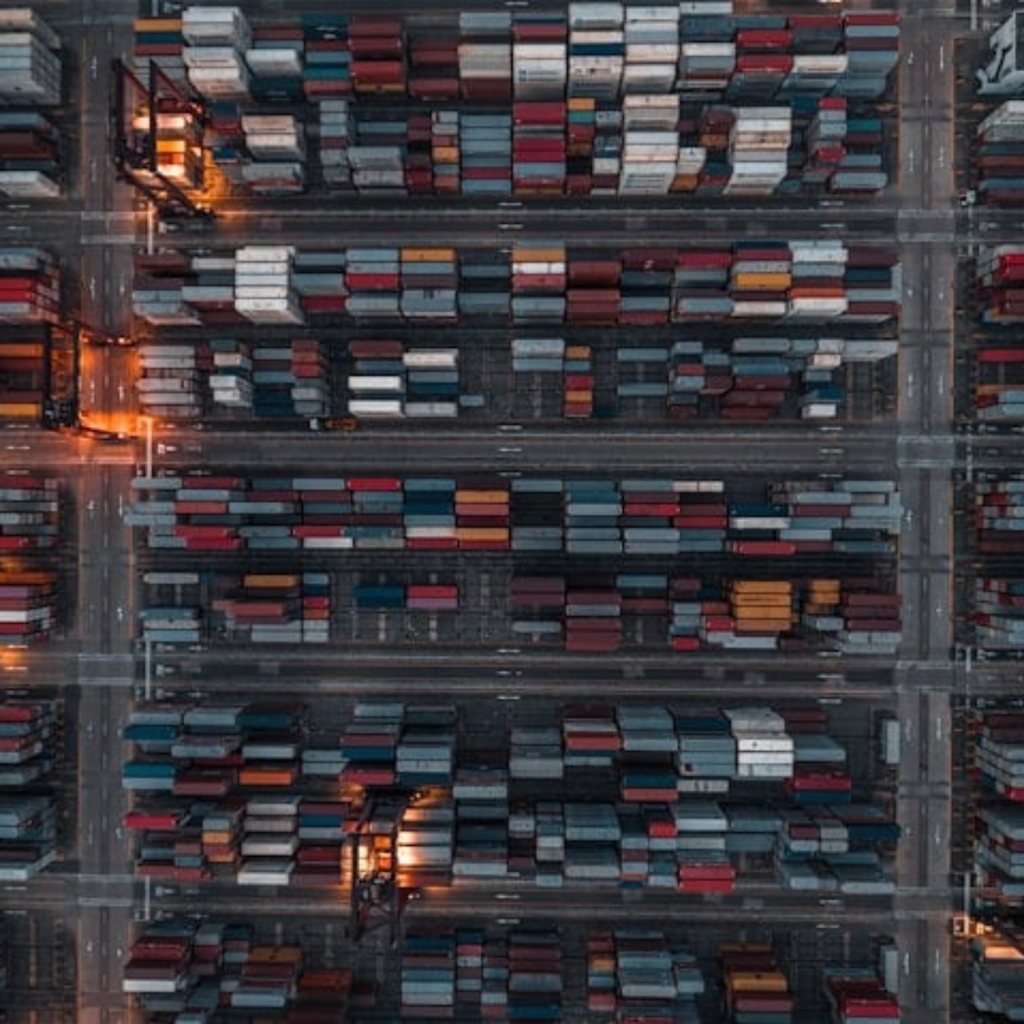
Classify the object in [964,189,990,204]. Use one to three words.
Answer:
vehicle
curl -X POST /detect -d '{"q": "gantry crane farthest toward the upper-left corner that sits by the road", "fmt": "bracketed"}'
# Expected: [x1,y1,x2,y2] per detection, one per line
[113,53,205,213]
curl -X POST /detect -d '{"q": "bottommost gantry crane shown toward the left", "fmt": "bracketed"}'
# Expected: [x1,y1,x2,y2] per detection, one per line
[346,782,418,937]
